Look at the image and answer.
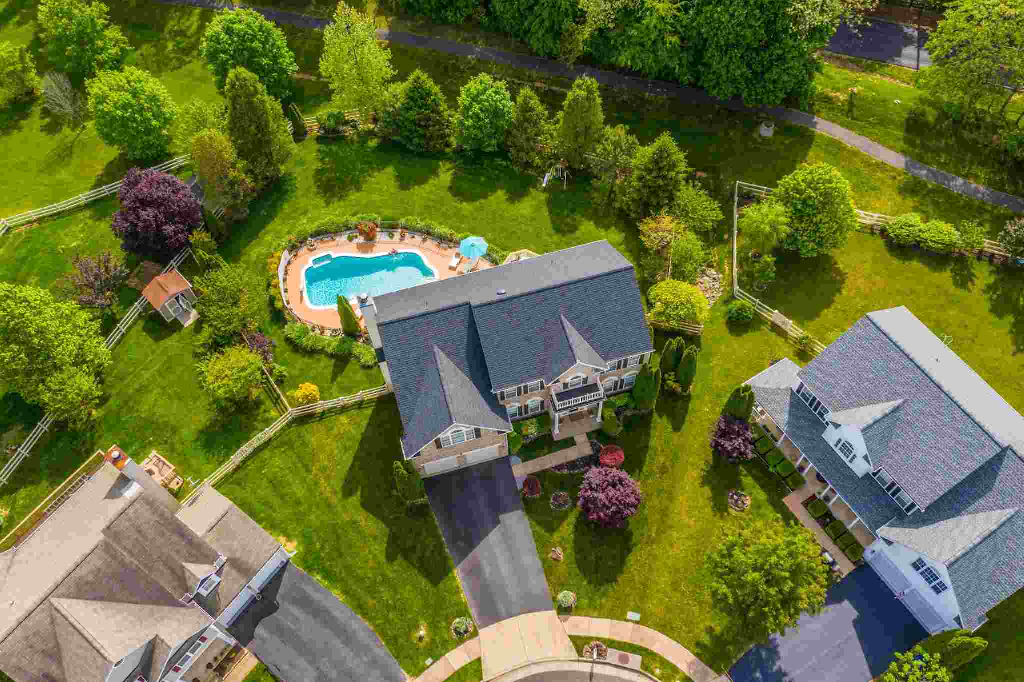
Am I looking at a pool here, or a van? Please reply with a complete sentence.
I can see a pool in this picture.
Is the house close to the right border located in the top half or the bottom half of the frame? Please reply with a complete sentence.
It is in the bottom half that the house close to the right border appears.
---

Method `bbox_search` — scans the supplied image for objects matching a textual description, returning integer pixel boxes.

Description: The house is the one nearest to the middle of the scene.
[359,237,658,477]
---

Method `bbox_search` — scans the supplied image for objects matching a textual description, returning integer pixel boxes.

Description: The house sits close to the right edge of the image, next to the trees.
[745,306,1024,635]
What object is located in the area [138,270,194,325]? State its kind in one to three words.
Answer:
shed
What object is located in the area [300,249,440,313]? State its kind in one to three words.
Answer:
swimming pool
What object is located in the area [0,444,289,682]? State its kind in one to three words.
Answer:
house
